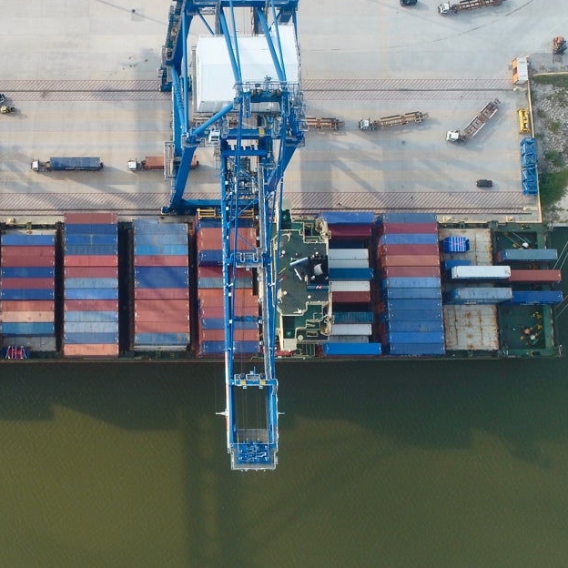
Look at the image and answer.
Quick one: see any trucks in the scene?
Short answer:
Yes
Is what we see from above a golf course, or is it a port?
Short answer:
port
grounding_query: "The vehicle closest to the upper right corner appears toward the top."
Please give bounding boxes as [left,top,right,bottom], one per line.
[551,34,568,61]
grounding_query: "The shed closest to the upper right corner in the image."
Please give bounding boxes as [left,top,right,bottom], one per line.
[507,53,532,83]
